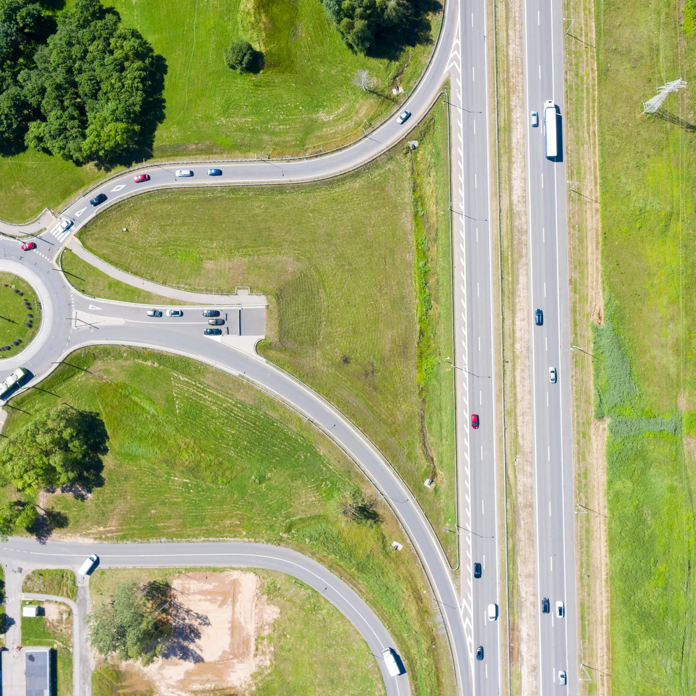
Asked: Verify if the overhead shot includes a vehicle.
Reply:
Yes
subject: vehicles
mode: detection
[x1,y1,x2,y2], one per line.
[203,310,219,316]
[542,597,548,613]
[77,555,97,576]
[59,217,74,232]
[383,647,399,679]
[471,414,477,428]
[204,327,221,335]
[558,670,564,685]
[474,563,481,577]
[548,368,556,383]
[476,645,483,661]
[0,369,29,398]
[396,111,410,124]
[90,195,105,206]
[208,170,221,176]
[209,319,224,325]
[133,175,148,183]
[531,112,537,126]
[176,171,191,177]
[535,310,542,325]
[22,243,36,250]
[543,102,555,159]
[557,601,563,617]
[488,604,496,621]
